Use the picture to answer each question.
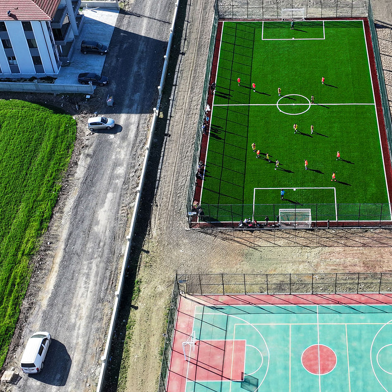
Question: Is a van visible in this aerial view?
Yes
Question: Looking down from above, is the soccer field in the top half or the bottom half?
top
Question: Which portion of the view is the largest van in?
bottom left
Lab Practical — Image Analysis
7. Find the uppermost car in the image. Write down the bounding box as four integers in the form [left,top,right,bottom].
[81,38,110,53]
